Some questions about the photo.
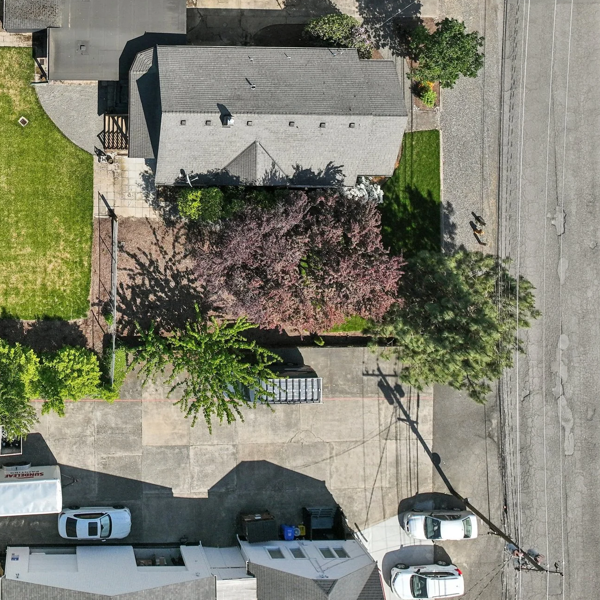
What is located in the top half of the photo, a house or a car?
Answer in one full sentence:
Visible in the top half of the photo is a house.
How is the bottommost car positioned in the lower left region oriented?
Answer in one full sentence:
The bottommost car positioned in the lower left region is oriented from left to right.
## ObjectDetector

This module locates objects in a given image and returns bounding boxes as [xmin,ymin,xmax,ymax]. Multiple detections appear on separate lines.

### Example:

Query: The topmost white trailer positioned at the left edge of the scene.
[0,463,78,515]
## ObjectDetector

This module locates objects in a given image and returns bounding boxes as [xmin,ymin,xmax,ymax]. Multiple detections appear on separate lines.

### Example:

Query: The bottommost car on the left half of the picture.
[60,506,130,542]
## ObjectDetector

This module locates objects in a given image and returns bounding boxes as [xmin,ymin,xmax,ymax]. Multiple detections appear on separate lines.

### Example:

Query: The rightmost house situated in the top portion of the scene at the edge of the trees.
[127,44,408,190]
